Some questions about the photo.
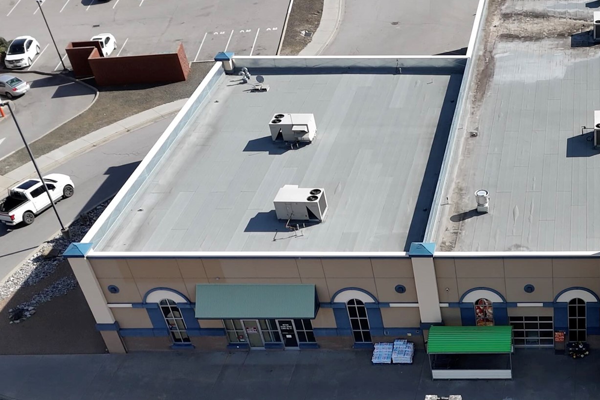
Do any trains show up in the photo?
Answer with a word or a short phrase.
No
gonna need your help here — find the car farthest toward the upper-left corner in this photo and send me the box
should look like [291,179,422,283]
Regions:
[7,35,41,63]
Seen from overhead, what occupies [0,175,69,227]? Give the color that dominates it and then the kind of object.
white truck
